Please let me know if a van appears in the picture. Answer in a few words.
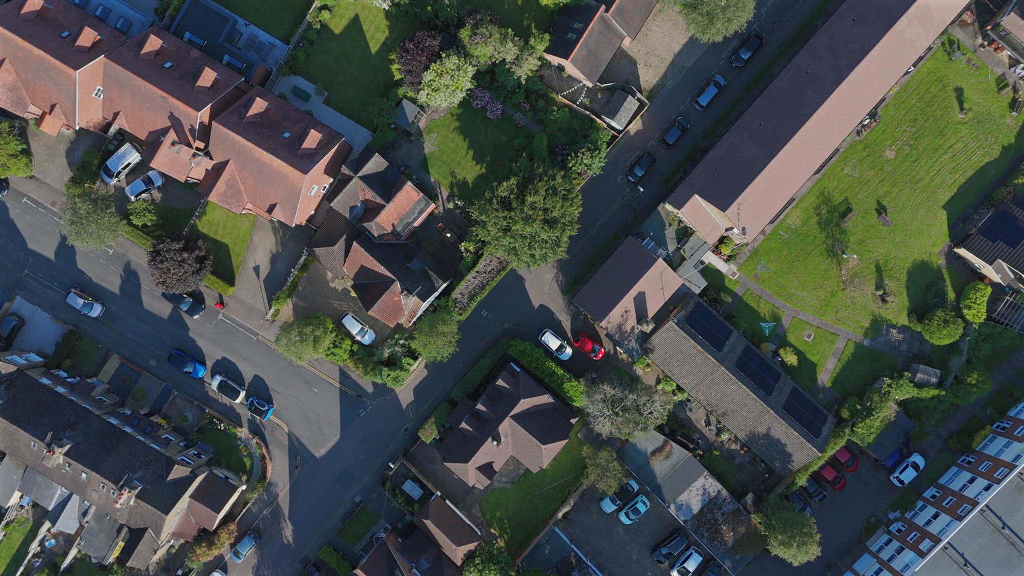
Yes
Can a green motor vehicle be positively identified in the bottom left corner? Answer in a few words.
No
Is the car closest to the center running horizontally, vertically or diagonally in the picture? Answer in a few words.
diagonally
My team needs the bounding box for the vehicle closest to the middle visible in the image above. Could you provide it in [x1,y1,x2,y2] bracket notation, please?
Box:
[538,327,572,361]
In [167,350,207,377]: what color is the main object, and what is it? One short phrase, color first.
blue car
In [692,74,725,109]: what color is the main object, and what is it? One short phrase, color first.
blue car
